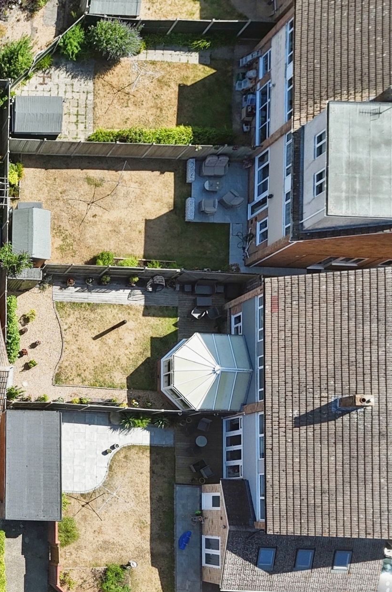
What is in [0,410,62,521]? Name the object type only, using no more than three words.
building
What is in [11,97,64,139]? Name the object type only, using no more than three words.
shed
